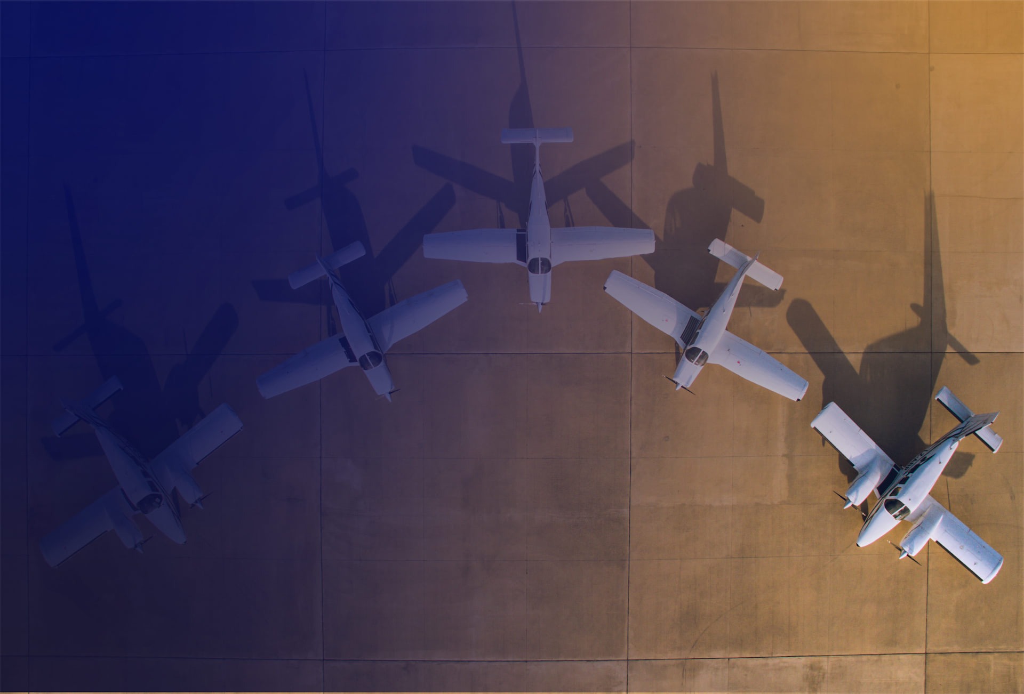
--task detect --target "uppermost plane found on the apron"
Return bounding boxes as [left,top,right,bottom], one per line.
[423,128,655,312]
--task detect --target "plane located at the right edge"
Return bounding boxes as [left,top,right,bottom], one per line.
[813,387,1005,580]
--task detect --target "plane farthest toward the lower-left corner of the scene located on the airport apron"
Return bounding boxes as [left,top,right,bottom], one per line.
[39,376,242,564]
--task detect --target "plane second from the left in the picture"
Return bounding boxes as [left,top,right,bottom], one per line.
[257,241,467,401]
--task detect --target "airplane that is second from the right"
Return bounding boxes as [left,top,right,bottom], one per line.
[603,239,808,402]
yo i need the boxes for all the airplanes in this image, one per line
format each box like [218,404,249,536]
[257,241,467,401]
[39,376,242,564]
[423,128,655,312]
[603,239,808,402]
[813,387,1005,580]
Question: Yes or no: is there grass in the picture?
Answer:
No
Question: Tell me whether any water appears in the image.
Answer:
No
